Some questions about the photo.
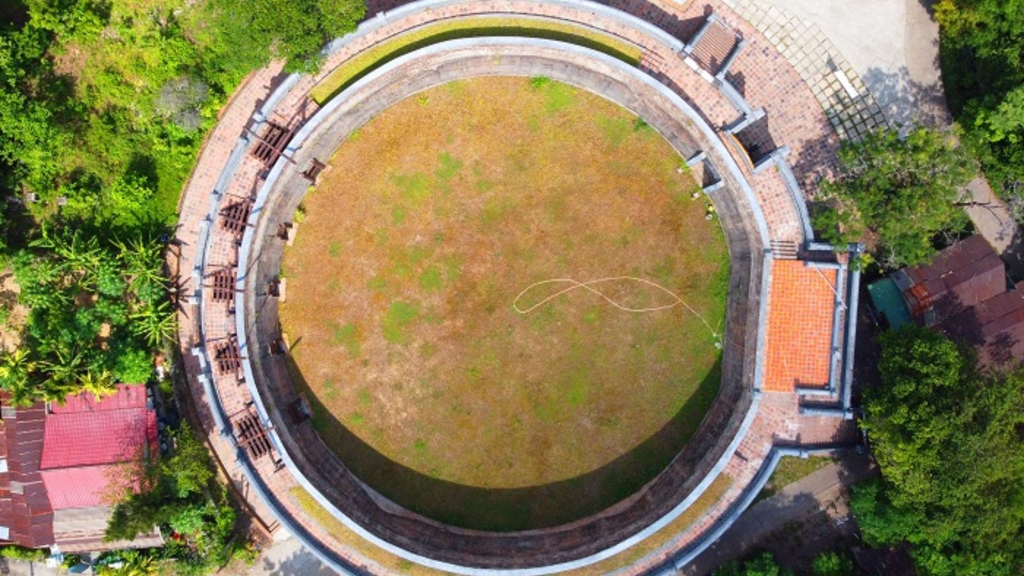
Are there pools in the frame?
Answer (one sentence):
No, I can see no pool in this picture.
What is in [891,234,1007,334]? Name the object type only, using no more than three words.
shed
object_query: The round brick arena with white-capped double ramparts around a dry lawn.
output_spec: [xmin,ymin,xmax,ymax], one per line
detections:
[187,0,812,576]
